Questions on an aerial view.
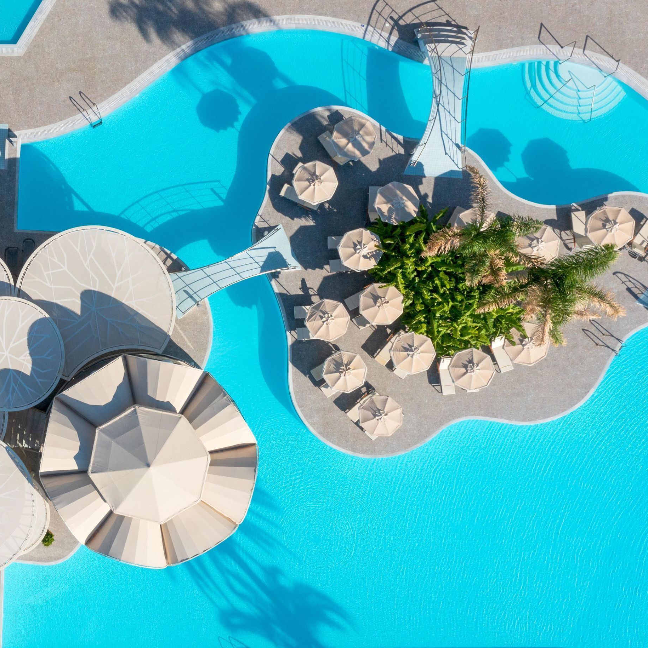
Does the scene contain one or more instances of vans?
No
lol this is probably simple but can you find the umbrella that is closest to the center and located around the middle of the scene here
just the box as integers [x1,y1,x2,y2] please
[303,297,349,341]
